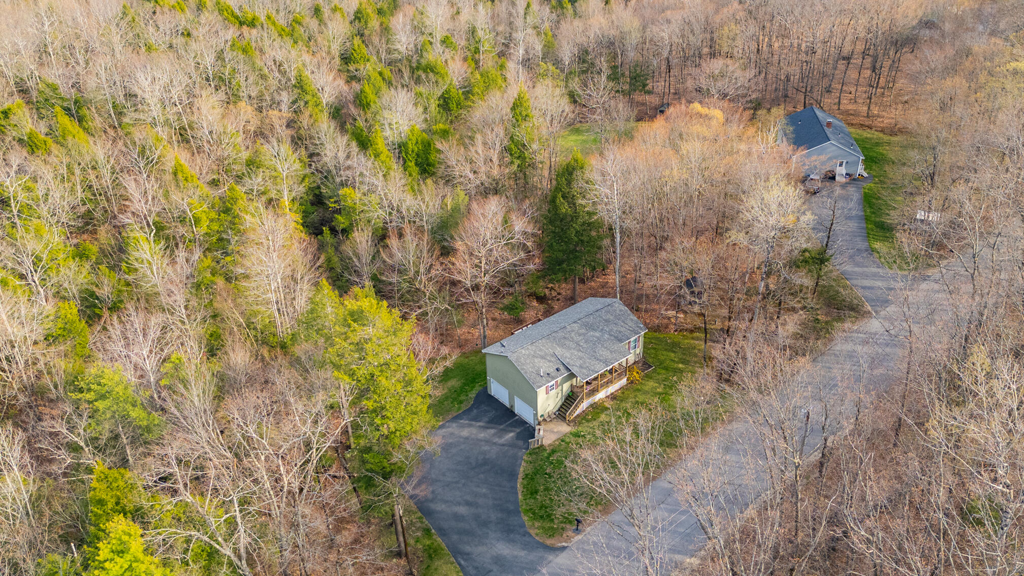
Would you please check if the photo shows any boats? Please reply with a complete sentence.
No, the photo shows no boat.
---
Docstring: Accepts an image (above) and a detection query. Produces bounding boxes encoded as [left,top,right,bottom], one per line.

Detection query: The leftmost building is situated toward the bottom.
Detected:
[481,298,647,429]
